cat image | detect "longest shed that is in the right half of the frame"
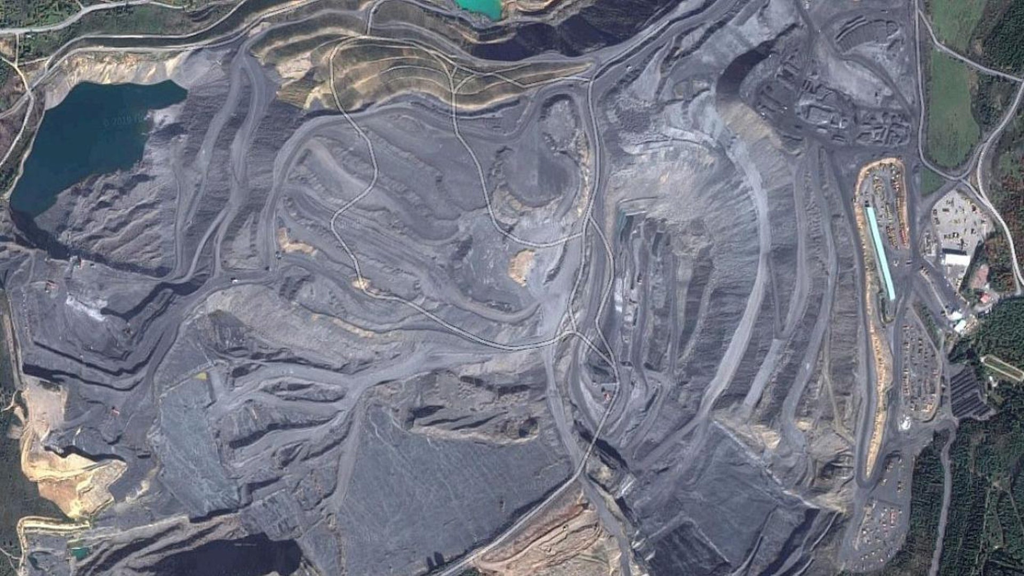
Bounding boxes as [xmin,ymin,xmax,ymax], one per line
[867,207,896,300]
